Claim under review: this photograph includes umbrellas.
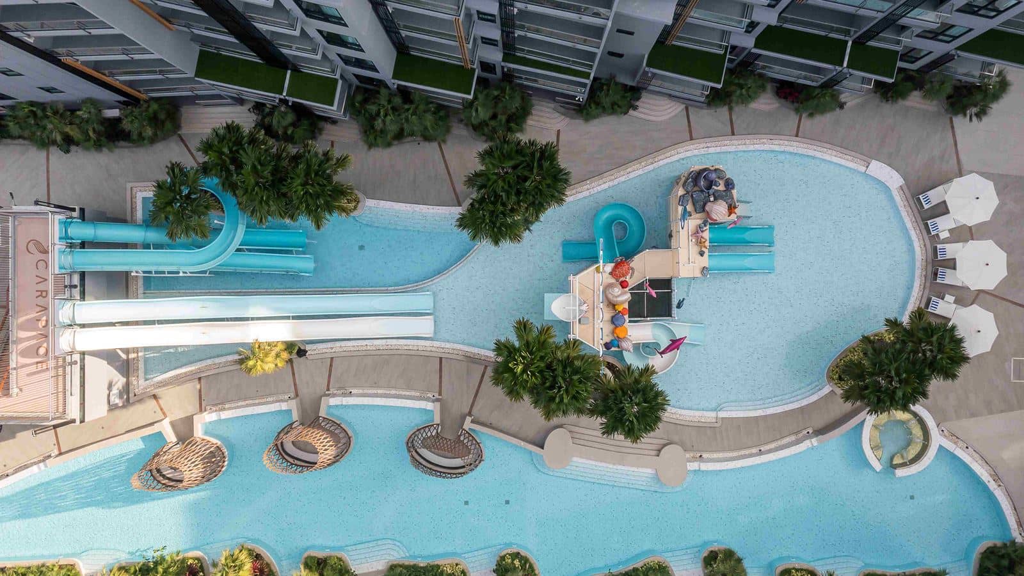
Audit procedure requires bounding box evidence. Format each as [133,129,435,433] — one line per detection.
[948,302,1000,360]
[937,171,1000,227]
[946,238,1008,292]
